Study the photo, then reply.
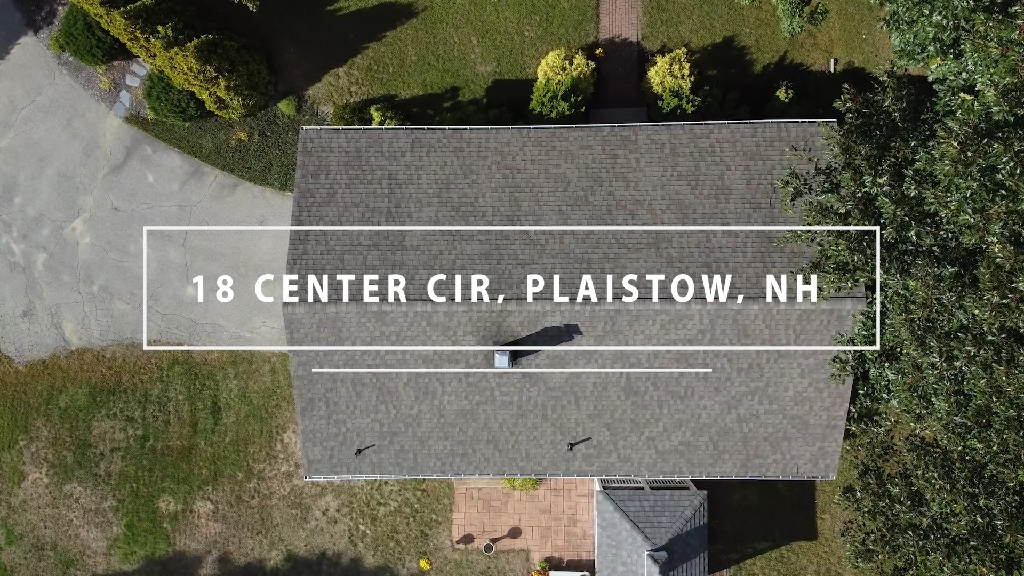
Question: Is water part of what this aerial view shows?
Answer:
No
